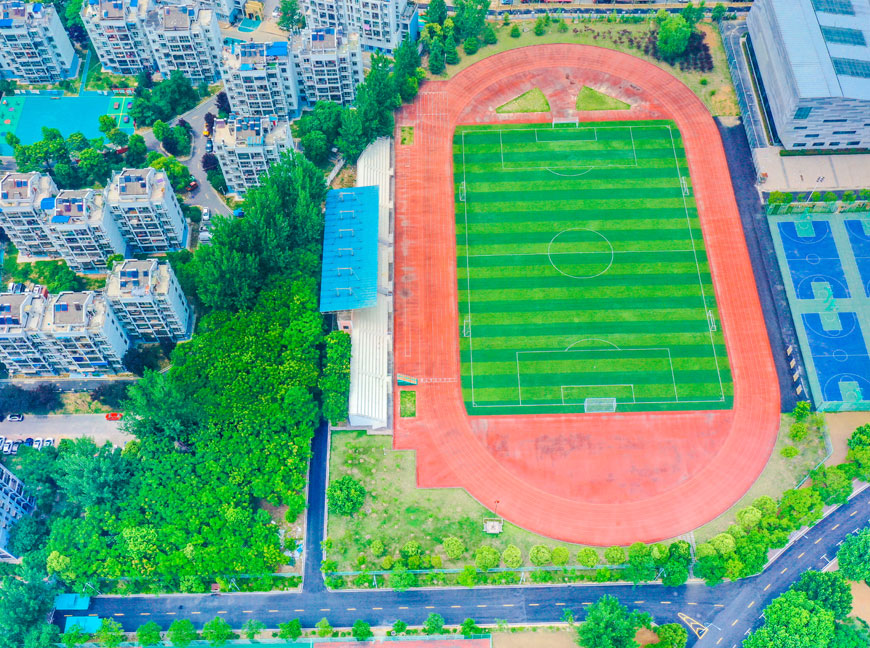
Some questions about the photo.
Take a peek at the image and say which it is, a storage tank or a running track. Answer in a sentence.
The one in the frame is a running track.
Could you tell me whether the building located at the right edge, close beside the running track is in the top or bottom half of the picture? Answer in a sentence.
You can find the building located at the right edge, close beside the running track in the top half.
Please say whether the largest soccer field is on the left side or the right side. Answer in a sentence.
It is on the right.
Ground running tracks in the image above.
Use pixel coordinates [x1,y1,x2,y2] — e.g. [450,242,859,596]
[393,46,779,544]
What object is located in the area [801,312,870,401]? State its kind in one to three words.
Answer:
basketball court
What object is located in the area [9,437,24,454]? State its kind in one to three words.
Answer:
car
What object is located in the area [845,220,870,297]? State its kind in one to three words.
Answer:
basketball court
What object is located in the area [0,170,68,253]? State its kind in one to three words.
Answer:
building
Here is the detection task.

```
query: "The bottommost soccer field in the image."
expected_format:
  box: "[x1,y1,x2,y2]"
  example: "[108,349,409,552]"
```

[455,119,737,416]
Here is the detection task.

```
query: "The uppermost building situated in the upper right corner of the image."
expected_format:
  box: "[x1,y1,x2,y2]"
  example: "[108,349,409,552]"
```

[749,0,870,141]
